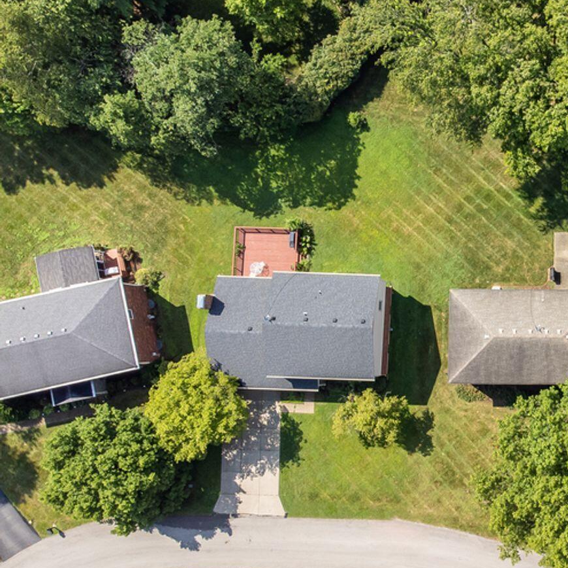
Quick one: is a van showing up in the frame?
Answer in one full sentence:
No, there appears to be no van in this shot.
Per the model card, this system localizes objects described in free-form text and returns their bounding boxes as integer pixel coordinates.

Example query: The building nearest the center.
[196,270,391,391]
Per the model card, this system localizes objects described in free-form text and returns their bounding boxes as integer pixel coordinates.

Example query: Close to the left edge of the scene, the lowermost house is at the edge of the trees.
[0,275,161,409]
